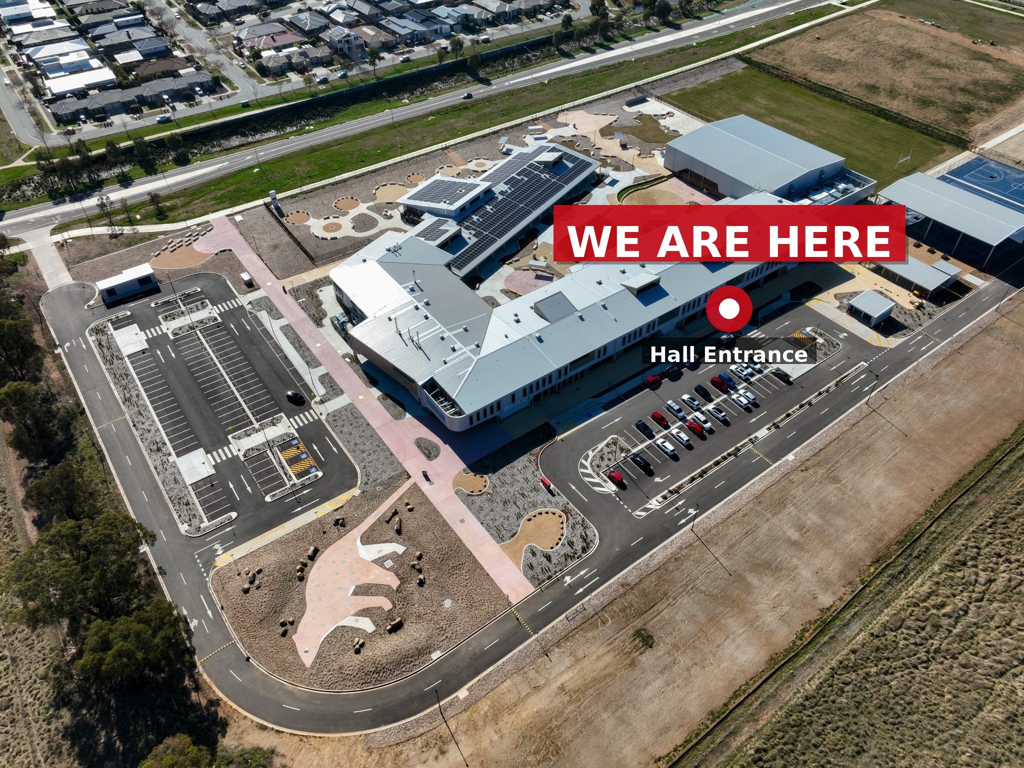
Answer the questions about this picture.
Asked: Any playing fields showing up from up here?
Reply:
Yes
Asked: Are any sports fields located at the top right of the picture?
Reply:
Yes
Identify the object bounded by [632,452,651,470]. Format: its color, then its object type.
black car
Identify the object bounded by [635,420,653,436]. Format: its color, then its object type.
black car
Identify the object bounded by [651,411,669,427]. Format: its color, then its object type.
red car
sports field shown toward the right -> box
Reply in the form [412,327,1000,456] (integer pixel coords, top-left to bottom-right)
[659,65,965,195]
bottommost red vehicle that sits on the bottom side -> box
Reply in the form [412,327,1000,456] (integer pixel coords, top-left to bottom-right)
[605,467,625,486]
